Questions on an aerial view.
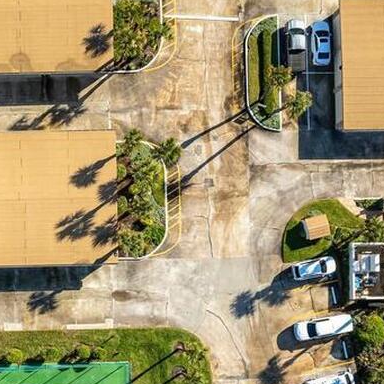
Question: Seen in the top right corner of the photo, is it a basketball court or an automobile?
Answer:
automobile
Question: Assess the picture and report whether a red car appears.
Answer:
No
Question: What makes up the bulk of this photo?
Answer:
paved ground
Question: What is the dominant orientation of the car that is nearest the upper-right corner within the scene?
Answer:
up and down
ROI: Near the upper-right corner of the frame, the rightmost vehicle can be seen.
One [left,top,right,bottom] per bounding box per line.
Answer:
[310,23,332,67]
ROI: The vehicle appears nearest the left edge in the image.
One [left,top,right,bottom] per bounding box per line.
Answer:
[284,22,308,73]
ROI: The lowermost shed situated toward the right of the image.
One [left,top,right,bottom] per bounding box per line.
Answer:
[297,212,332,239]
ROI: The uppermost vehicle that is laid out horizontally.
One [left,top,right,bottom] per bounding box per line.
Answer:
[292,257,336,281]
